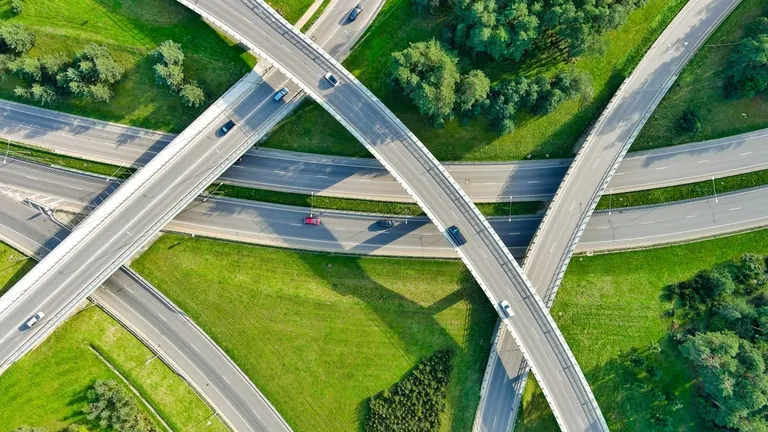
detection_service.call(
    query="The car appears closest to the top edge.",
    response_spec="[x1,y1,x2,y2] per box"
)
[348,4,362,20]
